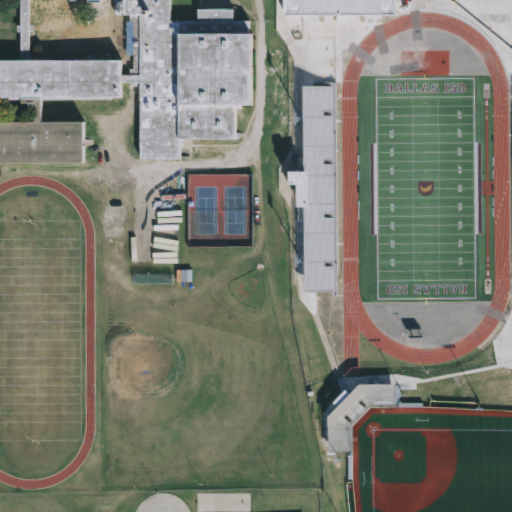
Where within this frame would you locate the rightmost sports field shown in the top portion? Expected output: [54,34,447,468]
[358,76,494,302]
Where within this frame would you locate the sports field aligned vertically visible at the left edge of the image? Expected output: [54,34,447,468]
[0,185,86,480]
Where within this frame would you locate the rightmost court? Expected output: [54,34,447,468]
[224,187,247,235]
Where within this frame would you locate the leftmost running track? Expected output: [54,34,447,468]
[0,176,95,489]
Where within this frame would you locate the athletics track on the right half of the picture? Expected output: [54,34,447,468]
[342,12,510,371]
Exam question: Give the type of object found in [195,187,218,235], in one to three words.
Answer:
tennis court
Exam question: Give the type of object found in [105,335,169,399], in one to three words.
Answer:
baseball field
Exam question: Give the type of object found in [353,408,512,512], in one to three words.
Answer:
baseball field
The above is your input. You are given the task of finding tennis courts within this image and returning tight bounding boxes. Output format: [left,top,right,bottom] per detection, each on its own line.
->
[195,187,218,235]
[224,187,247,235]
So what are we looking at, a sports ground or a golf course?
sports ground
